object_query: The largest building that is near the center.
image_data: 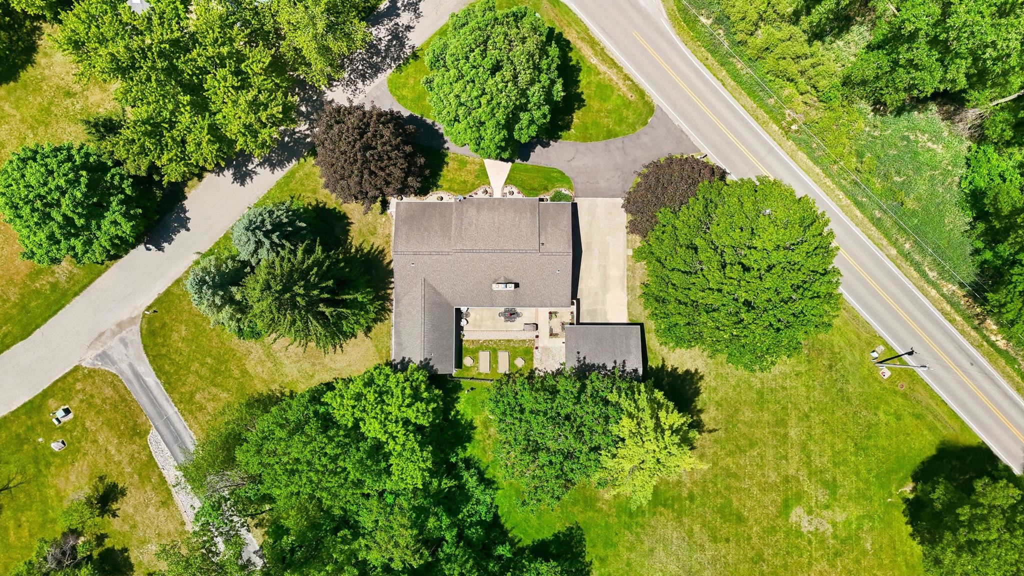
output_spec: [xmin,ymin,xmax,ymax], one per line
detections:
[390,197,573,374]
